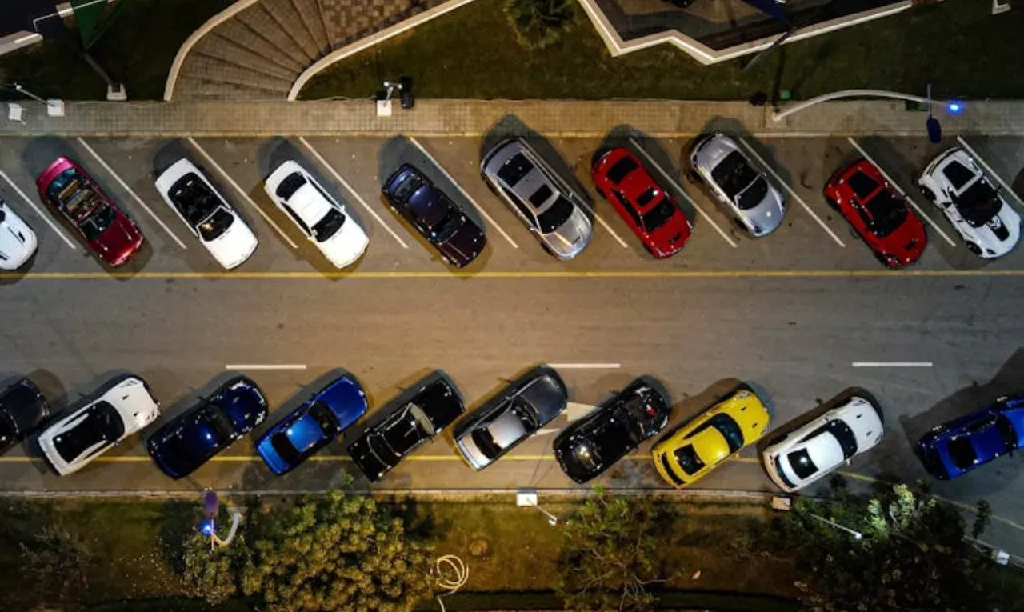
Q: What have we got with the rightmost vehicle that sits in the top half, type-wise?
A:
automobile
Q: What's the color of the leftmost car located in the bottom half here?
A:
black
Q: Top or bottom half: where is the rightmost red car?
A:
top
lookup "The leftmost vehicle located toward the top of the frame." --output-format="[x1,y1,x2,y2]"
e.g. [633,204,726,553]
[0,195,37,267]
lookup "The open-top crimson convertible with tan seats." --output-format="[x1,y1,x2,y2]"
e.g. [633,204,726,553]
[39,157,141,261]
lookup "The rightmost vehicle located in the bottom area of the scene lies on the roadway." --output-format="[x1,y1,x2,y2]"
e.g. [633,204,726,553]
[913,399,1024,480]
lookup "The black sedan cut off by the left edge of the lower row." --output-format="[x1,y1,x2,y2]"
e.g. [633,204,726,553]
[0,380,52,452]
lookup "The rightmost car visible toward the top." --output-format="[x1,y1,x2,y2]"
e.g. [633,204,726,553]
[913,150,1014,255]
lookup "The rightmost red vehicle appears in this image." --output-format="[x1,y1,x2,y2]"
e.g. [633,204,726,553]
[821,161,919,263]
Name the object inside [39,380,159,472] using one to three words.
car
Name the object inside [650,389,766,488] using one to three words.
car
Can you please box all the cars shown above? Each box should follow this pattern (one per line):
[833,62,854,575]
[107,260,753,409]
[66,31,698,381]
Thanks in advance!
[588,147,687,259]
[759,398,877,493]
[0,195,37,267]
[913,150,1014,255]
[913,399,1024,480]
[265,161,363,266]
[348,376,460,477]
[821,161,919,263]
[553,380,663,479]
[451,369,564,469]
[650,389,766,488]
[481,139,589,257]
[0,380,52,452]
[257,372,366,471]
[157,158,255,264]
[150,378,266,479]
[39,157,141,261]
[39,380,159,472]
[382,163,483,265]
[687,137,779,234]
